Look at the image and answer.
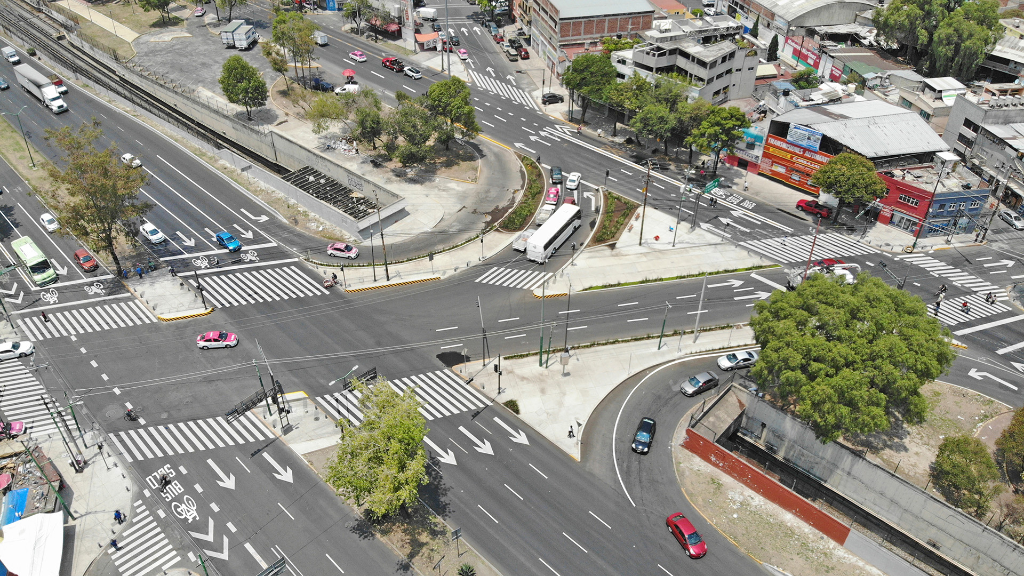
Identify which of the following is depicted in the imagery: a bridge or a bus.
bus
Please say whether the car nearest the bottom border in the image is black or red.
red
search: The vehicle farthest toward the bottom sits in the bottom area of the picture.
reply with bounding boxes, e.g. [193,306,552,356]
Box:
[667,512,705,561]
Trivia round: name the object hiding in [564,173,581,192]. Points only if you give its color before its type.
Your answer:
white car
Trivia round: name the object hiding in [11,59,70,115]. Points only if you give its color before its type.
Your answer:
white truck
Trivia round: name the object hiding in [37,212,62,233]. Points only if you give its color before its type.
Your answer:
white car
